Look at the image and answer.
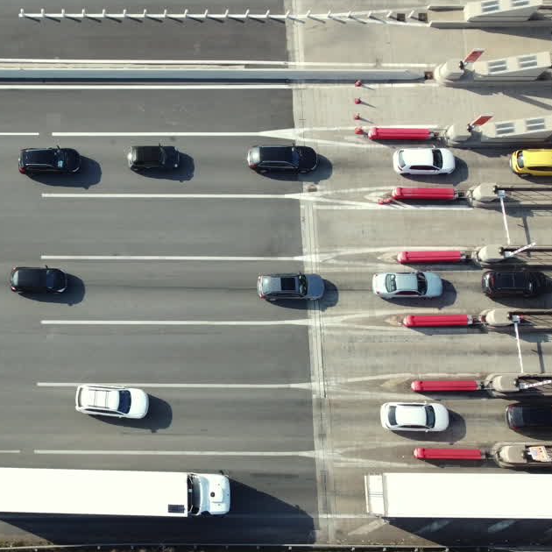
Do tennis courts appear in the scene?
No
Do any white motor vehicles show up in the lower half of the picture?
Yes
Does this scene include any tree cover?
No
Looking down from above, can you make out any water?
No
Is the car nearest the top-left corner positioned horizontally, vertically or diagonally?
horizontally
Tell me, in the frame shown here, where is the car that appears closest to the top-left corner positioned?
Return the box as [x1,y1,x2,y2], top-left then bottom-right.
[16,143,80,176]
